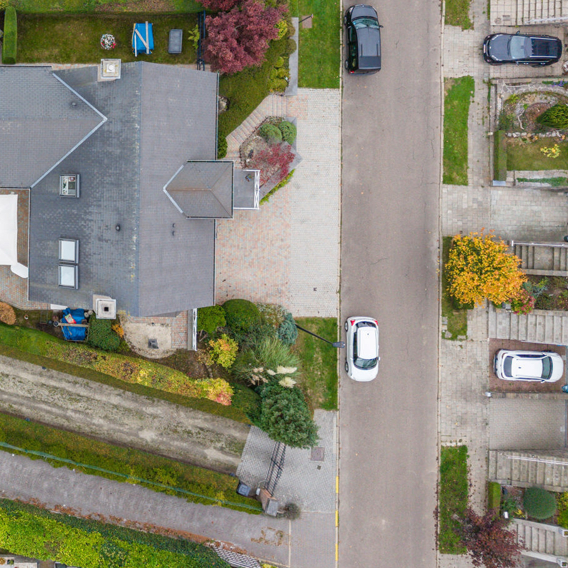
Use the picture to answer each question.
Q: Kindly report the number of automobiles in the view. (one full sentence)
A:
The photo contains 4 automobiles.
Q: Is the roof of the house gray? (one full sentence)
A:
Yes, the roof of the house appears gray.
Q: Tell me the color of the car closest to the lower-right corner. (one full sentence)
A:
The car closest to the lower-right corner is white.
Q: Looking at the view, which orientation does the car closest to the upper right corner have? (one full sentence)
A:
In this picture, the car closest to the upper right corner is oriented from side to side.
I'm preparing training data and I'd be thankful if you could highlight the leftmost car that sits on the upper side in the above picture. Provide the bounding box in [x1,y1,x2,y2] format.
[342,5,383,75]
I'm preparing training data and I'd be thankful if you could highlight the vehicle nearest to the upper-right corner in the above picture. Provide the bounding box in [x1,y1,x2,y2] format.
[478,31,563,67]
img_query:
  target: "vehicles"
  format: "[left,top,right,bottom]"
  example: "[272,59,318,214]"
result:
[342,5,383,75]
[342,315,380,380]
[478,31,563,67]
[487,347,563,385]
